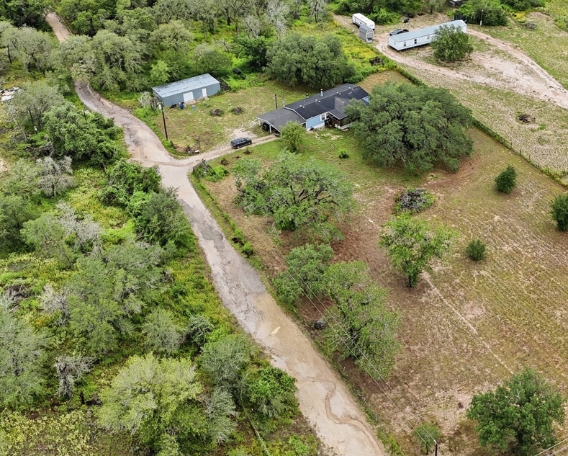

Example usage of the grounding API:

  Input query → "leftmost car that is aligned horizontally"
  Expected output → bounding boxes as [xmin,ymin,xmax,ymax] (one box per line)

[228,137,253,149]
